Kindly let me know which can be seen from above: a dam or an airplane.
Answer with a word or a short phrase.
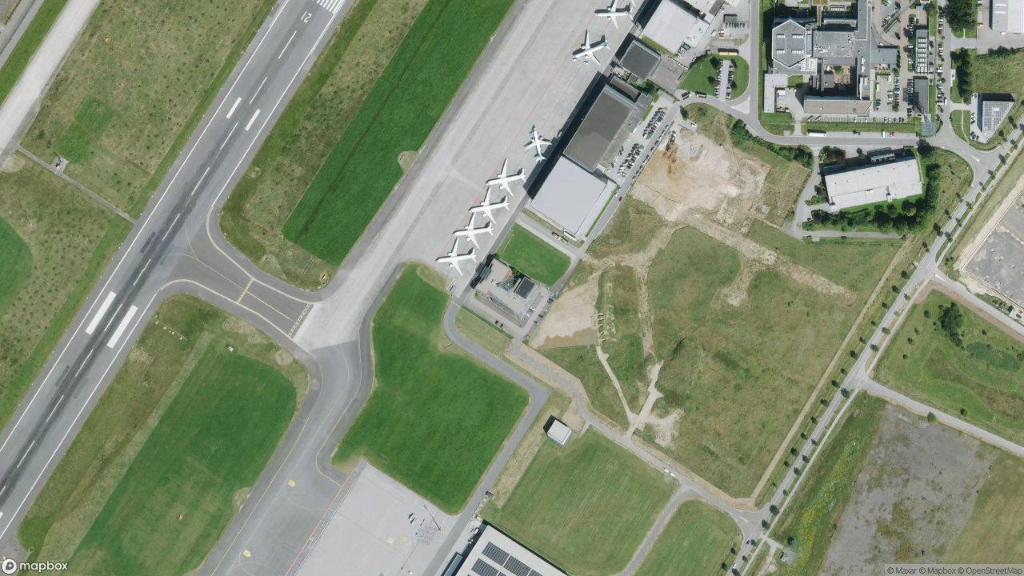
airplane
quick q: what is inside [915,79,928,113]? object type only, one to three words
building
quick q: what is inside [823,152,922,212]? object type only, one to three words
building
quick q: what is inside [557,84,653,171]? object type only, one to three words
hangar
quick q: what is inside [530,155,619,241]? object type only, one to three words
hangar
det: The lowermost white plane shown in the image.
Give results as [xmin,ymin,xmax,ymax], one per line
[436,239,477,277]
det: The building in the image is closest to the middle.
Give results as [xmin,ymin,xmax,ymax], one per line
[470,258,544,319]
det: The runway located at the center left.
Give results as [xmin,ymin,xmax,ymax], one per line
[0,0,356,557]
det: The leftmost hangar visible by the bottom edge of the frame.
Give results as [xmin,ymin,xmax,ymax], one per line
[455,524,572,576]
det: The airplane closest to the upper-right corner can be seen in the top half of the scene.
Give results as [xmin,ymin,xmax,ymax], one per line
[595,0,635,33]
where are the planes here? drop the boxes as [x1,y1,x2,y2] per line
[453,212,493,249]
[525,128,552,160]
[469,188,509,225]
[595,0,635,33]
[487,160,527,197]
[436,239,477,277]
[573,31,609,66]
